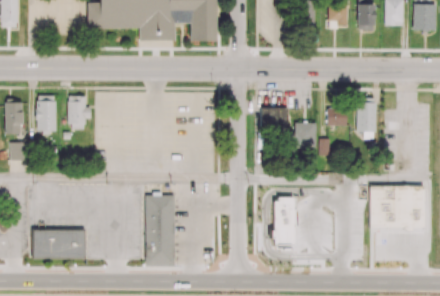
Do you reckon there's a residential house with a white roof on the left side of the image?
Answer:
Yes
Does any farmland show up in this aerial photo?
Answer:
No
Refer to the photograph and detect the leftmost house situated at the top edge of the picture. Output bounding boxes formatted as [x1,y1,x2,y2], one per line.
[0,0,18,28]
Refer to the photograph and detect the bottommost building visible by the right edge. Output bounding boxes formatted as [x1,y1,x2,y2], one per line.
[370,185,422,228]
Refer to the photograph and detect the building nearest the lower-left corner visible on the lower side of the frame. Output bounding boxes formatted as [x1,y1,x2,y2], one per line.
[32,229,84,259]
